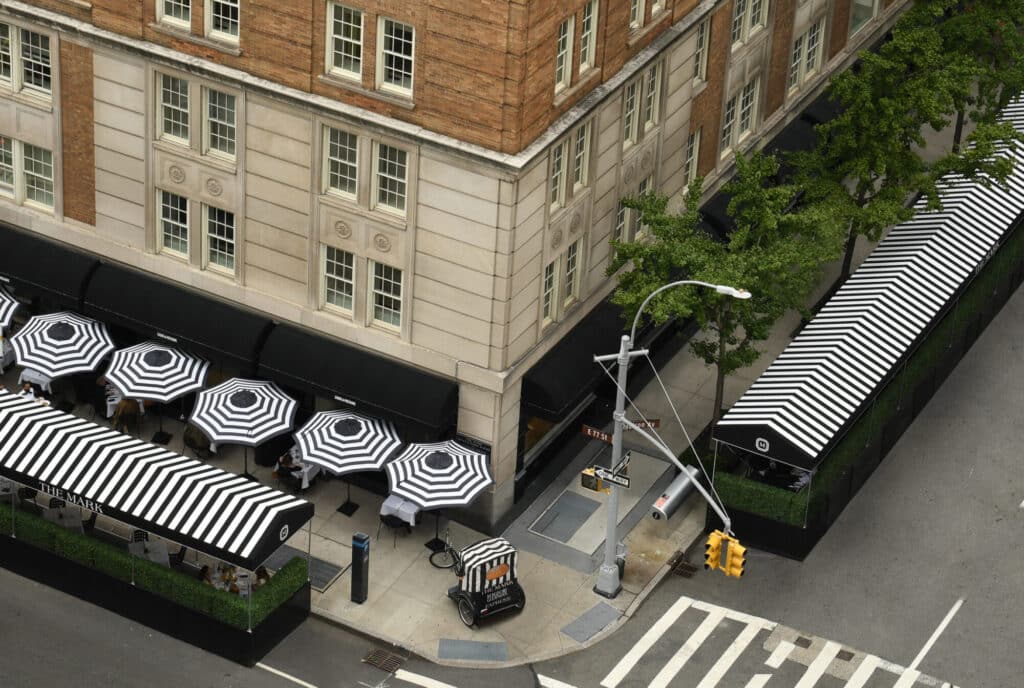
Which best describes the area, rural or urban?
urban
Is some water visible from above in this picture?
No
